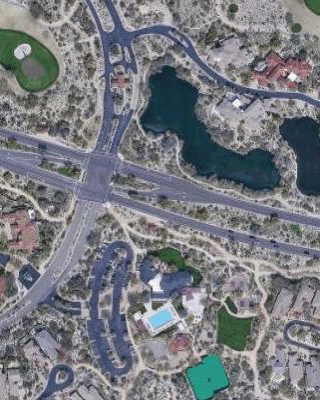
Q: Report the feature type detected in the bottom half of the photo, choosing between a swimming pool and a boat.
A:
swimming pool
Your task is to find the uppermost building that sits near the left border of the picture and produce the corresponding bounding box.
[4,207,38,251]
